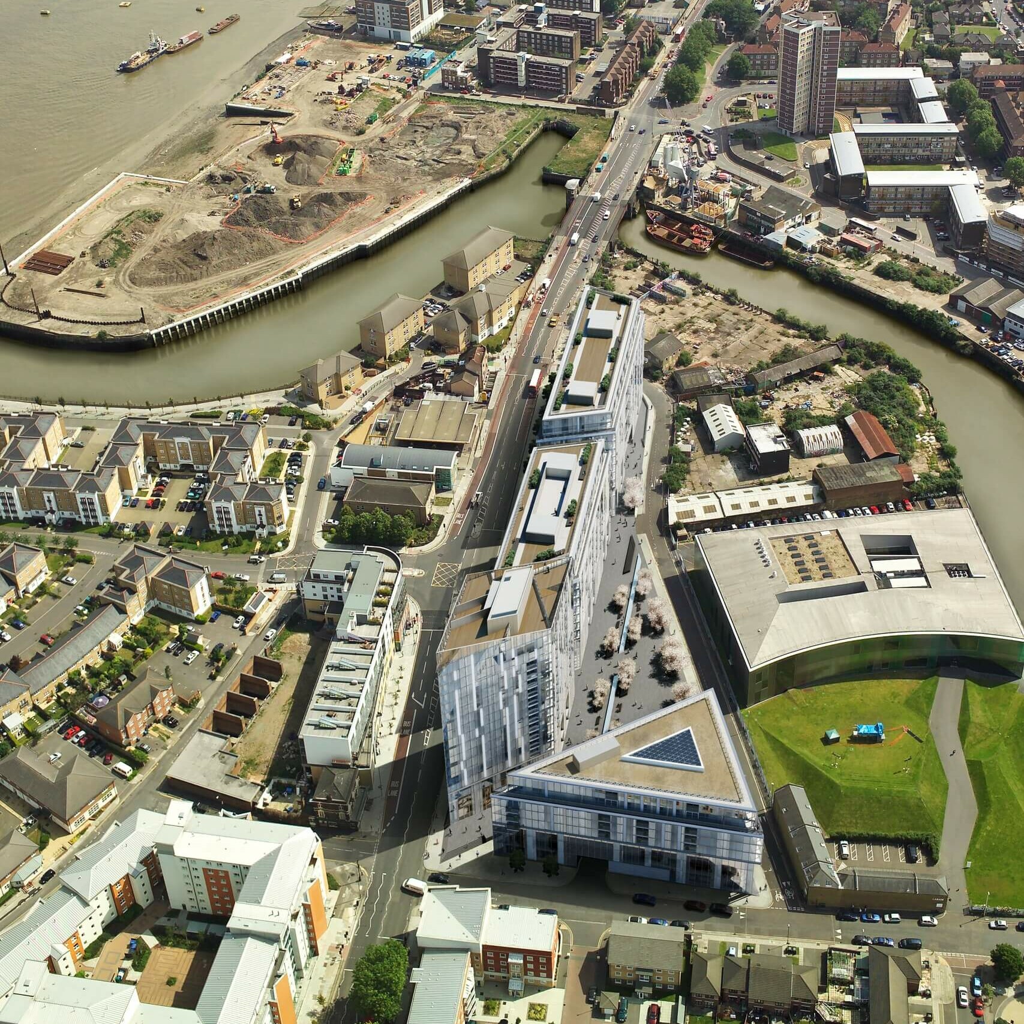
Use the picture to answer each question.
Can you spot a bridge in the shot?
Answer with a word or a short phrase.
Yes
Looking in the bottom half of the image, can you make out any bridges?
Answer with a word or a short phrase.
No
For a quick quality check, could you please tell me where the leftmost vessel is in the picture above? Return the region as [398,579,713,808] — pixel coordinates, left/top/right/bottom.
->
[116,27,175,73]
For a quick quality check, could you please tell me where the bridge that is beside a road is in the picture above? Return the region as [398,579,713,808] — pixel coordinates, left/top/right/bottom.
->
[549,159,646,249]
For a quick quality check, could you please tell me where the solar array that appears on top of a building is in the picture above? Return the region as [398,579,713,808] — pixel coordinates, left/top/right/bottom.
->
[628,731,699,768]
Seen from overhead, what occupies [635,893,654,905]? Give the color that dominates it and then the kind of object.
black vehicle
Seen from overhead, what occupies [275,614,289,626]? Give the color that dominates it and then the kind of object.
black vehicle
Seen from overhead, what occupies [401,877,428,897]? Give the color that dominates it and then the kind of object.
white vehicle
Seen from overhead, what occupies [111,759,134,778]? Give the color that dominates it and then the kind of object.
white vehicle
